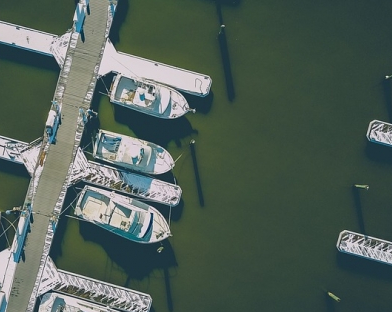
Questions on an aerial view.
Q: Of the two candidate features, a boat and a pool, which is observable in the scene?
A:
boat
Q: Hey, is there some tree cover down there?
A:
No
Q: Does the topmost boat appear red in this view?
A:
No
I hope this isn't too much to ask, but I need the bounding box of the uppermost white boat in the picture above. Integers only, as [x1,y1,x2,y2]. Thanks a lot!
[109,73,196,120]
